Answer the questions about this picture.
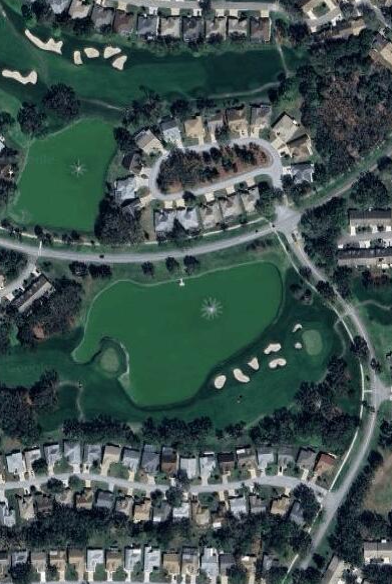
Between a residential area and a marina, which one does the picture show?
residential area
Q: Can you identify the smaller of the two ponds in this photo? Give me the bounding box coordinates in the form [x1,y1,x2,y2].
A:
[14,117,114,229]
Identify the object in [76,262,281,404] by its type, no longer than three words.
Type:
pond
